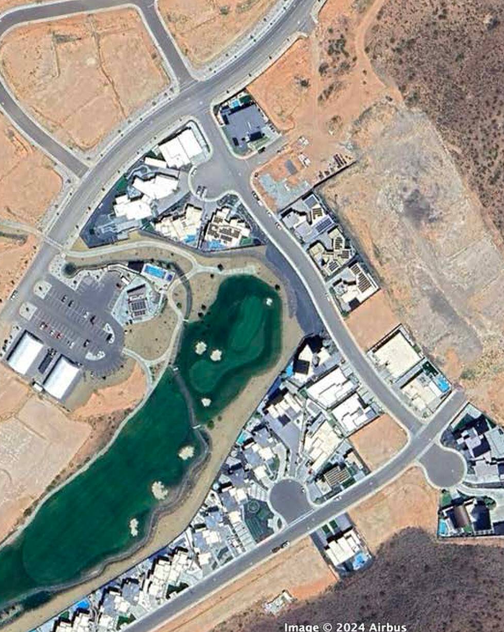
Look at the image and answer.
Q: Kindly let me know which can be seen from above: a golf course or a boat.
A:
golf course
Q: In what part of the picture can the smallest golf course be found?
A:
center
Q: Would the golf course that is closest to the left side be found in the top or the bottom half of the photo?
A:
bottom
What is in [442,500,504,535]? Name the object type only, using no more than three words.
house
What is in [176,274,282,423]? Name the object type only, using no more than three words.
golf course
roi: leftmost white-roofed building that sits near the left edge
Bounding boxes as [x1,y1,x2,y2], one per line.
[7,332,43,375]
